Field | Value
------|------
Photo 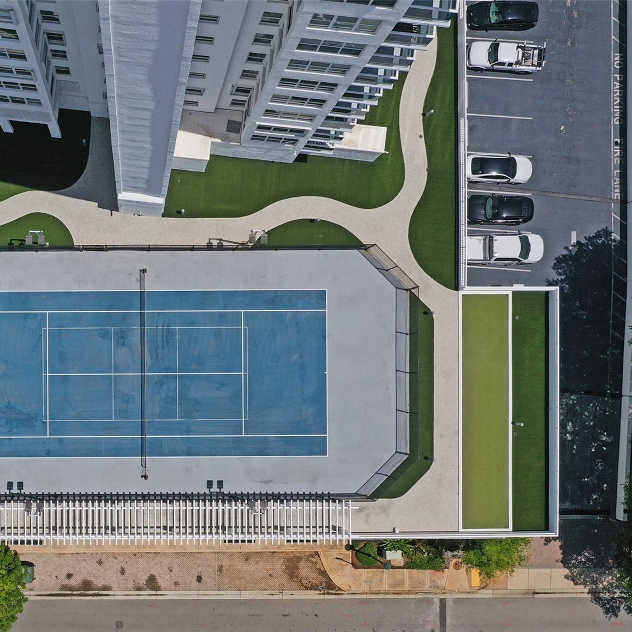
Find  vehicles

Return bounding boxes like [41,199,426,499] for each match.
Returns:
[467,0,537,34]
[467,152,533,184]
[467,36,550,74]
[467,192,534,226]
[467,230,545,266]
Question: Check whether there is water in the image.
No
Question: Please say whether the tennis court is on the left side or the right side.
left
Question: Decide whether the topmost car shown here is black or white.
black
